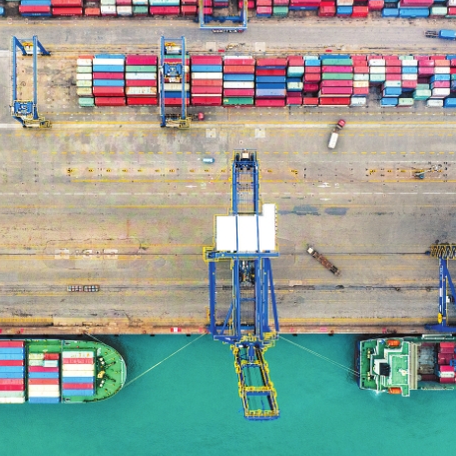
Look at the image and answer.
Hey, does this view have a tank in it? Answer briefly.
No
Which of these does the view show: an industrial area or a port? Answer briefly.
port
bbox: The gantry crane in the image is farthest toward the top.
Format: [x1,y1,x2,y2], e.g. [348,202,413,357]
[196,0,248,30]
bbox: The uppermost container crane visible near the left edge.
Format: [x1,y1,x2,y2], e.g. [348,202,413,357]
[9,36,55,127]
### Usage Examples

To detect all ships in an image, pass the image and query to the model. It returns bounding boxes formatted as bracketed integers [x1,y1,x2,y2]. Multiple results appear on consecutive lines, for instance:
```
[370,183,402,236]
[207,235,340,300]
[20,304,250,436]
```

[0,337,125,403]
[358,335,456,396]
